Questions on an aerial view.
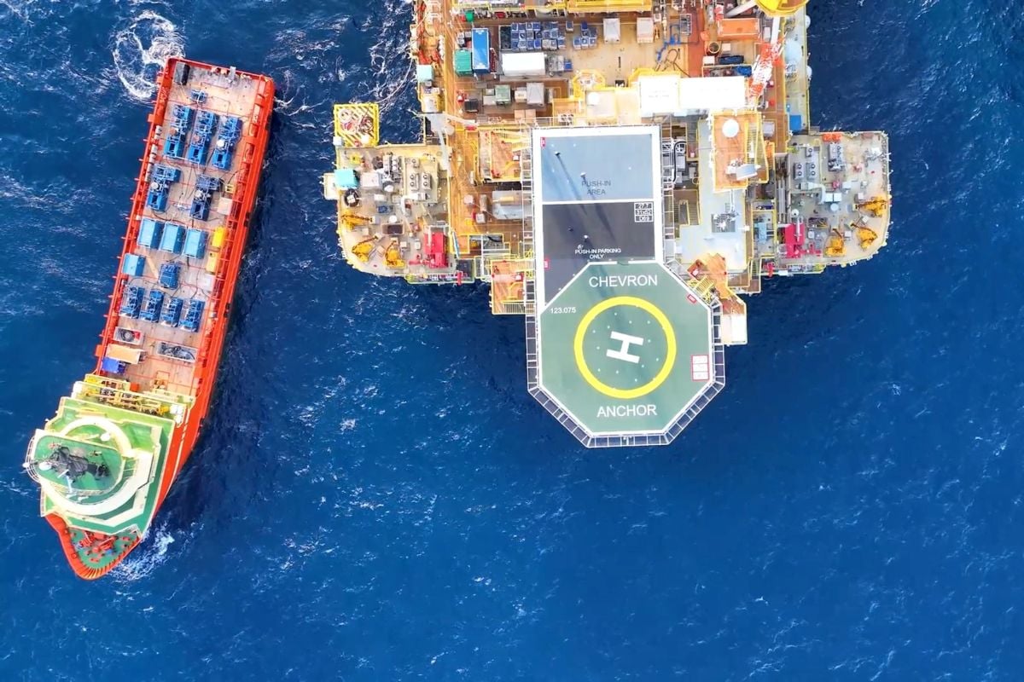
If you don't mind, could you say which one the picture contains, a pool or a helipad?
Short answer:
helipad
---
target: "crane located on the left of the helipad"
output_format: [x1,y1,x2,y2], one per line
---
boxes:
[418,110,479,179]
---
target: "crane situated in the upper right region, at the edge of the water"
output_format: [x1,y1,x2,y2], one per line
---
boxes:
[742,0,810,118]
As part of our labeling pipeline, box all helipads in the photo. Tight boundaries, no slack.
[522,123,726,448]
